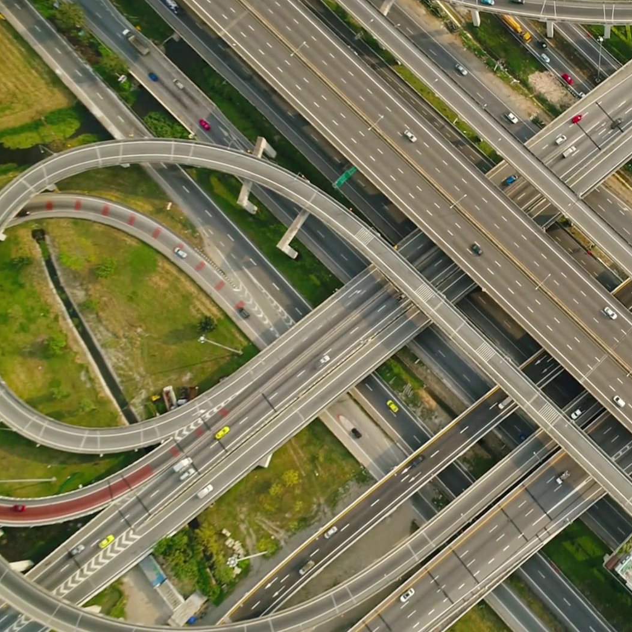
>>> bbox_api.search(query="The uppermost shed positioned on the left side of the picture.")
[139,554,171,588]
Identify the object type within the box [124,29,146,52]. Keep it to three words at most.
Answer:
truck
